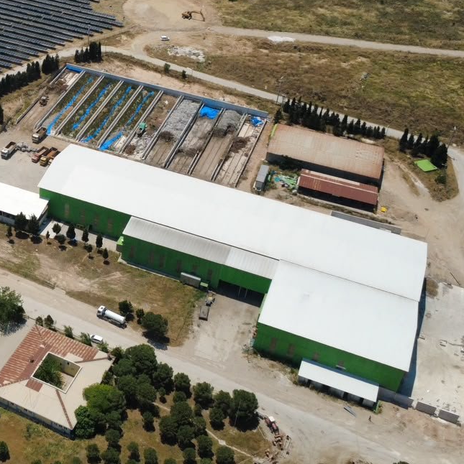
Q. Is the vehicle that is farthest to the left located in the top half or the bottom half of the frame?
top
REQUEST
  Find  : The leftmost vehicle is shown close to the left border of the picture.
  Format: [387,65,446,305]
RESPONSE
[2,136,22,156]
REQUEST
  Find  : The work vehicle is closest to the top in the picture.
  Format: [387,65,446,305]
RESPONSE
[183,9,210,21]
